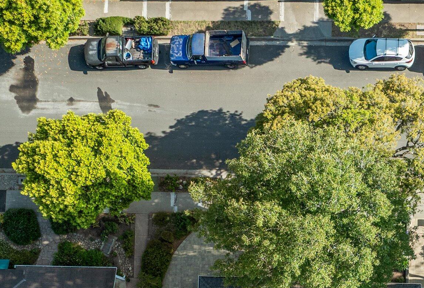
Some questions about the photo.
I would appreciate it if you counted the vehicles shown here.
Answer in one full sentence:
Looking from above, you can make out 3 vehicles.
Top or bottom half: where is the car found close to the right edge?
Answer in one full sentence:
The car found close to the right edge is in the top half of the image.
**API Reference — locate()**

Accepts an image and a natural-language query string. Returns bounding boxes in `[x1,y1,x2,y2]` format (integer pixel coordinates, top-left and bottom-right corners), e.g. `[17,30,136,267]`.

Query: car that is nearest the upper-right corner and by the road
[349,33,414,68]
